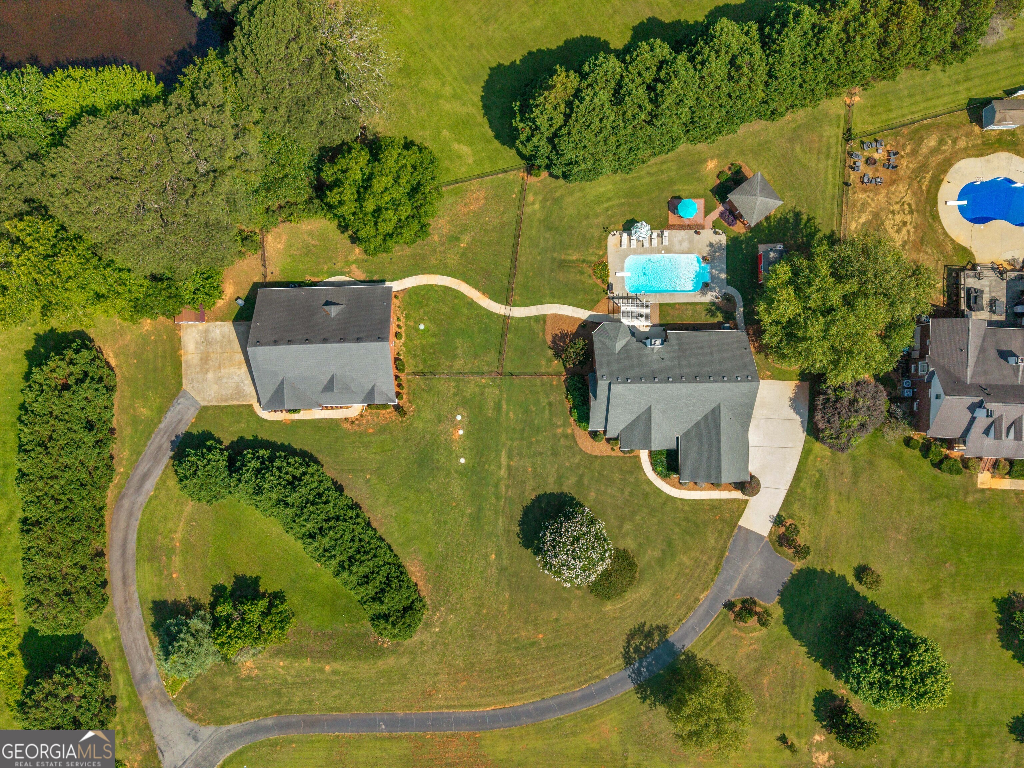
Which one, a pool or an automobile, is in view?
pool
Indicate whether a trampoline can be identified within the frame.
No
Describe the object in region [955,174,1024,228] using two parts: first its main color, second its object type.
blue swimming pool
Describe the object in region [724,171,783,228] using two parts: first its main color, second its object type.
gray gazebo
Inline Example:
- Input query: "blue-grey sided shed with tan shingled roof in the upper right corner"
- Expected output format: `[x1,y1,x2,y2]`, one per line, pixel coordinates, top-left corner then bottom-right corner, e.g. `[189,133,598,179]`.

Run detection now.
[983,100,1024,131]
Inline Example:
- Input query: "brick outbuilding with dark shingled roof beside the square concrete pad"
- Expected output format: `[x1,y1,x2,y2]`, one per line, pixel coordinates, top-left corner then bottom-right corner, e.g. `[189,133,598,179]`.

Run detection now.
[246,285,398,412]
